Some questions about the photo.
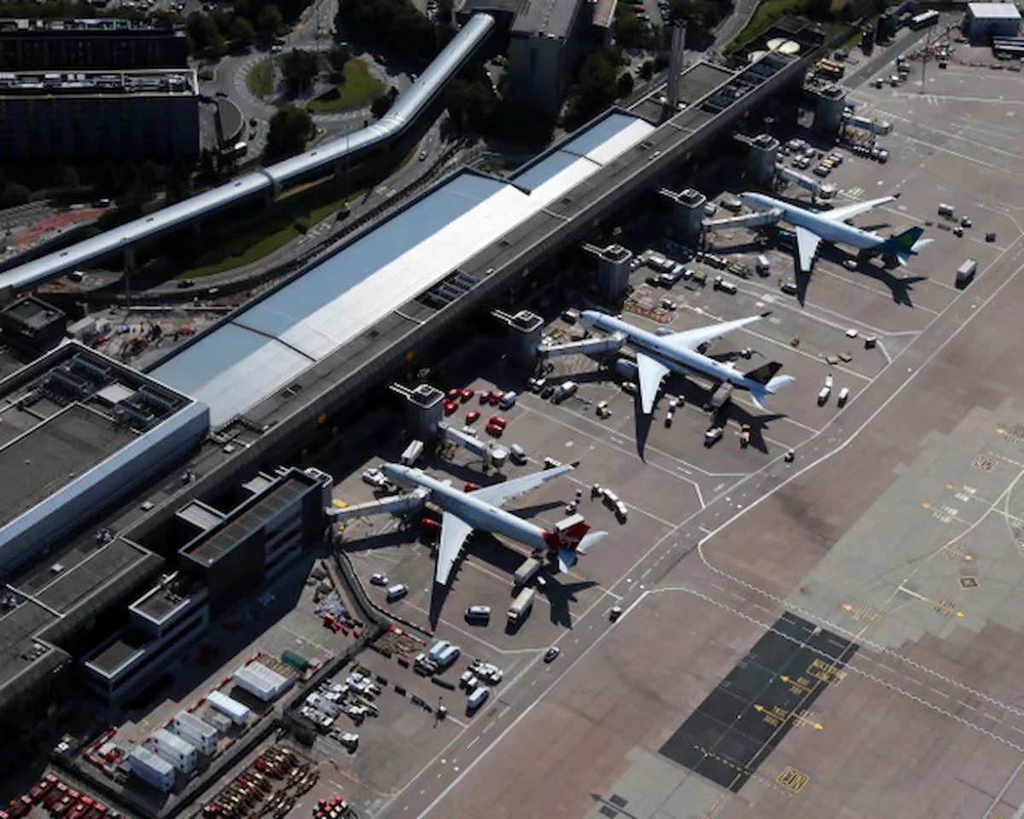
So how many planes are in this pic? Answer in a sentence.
The count of planes comes to 3.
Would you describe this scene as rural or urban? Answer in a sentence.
The area is urban.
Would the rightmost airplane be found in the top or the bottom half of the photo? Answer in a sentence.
The rightmost airplane is in the top half of the image.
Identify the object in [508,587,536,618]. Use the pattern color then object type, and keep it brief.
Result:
white truck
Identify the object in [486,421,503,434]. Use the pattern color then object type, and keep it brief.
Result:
red vehicle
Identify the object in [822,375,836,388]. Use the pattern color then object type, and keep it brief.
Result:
white vehicle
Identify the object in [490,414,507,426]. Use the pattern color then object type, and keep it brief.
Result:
red vehicle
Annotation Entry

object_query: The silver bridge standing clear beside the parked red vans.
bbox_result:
[434,420,508,475]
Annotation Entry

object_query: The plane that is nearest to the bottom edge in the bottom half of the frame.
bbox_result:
[378,459,603,583]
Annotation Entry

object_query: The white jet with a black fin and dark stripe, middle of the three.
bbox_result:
[581,309,793,411]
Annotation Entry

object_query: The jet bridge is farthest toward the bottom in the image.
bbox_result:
[324,489,436,540]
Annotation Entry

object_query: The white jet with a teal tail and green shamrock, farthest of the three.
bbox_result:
[737,189,930,271]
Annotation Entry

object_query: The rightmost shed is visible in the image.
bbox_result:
[957,0,1023,45]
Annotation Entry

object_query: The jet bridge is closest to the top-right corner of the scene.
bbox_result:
[838,110,892,144]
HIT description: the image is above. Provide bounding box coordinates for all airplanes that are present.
[581,309,793,411]
[737,189,930,271]
[378,459,603,583]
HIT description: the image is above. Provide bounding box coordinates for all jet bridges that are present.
[697,209,787,248]
[533,332,631,374]
[434,420,508,475]
[838,110,892,144]
[324,489,436,540]
[772,163,837,208]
